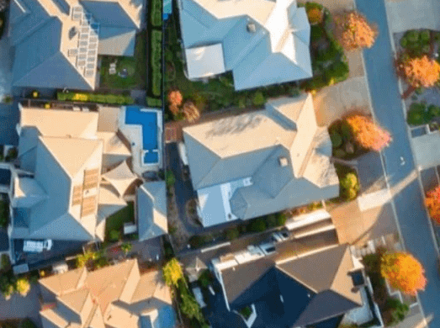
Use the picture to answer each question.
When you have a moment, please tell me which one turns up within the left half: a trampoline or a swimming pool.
swimming pool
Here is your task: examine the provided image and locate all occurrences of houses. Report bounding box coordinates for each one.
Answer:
[12,106,133,243]
[181,91,342,227]
[176,0,313,91]
[7,0,147,88]
[208,238,367,328]
[33,256,173,328]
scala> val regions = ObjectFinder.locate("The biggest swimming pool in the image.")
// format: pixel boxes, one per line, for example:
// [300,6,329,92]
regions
[122,103,162,151]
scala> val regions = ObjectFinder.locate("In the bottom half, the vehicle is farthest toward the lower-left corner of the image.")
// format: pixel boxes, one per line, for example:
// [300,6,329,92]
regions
[23,239,53,254]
